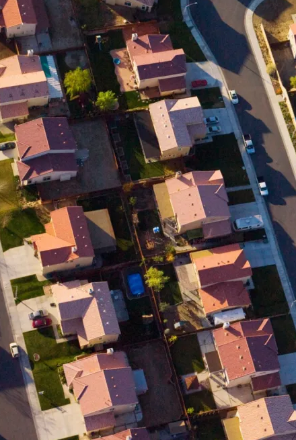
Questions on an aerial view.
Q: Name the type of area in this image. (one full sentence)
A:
This looks like a residential area.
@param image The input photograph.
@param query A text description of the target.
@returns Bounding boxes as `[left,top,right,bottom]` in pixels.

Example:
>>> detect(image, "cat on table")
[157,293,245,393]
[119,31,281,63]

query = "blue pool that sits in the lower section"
[127,271,146,296]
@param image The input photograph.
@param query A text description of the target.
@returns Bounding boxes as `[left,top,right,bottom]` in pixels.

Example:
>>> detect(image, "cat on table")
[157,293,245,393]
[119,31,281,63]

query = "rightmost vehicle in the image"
[256,177,269,197]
